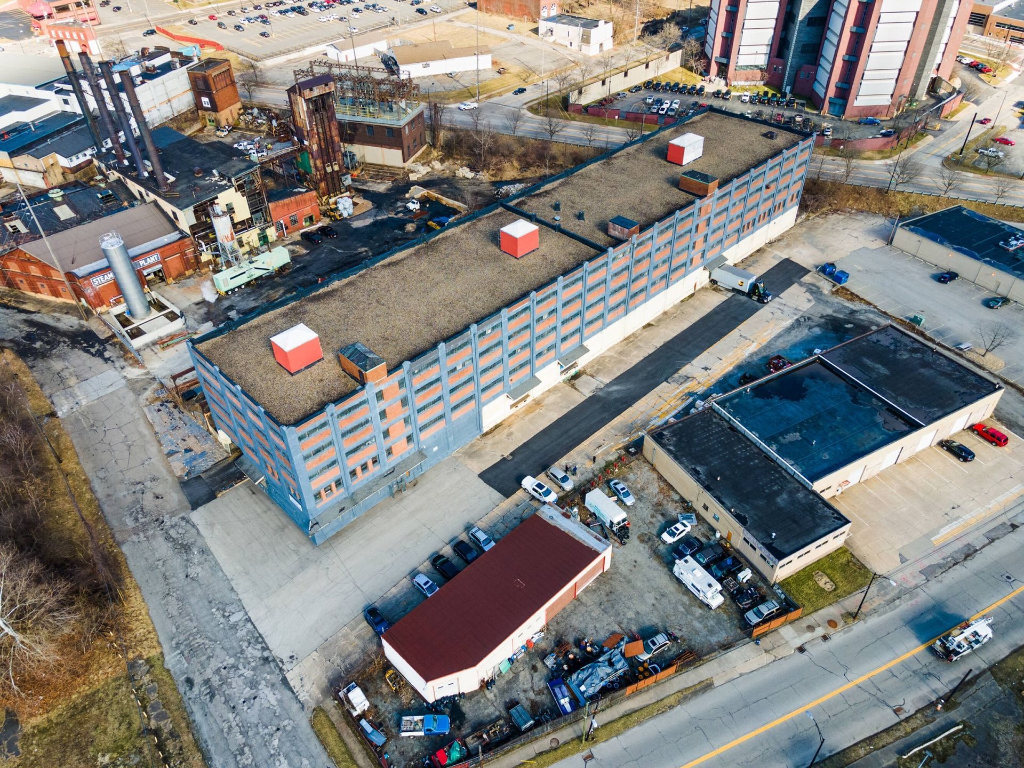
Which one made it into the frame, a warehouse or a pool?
warehouse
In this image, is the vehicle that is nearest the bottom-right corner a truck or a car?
truck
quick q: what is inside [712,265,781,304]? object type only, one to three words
truck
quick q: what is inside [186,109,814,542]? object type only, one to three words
warehouse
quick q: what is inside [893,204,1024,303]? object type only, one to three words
building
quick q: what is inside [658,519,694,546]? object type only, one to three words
car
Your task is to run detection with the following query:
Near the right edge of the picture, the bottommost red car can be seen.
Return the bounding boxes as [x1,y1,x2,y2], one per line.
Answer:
[971,419,1011,448]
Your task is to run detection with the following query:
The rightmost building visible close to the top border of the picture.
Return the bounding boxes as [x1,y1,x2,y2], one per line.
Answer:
[970,1,1024,45]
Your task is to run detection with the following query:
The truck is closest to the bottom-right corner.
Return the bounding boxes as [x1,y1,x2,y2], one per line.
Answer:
[932,611,997,661]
